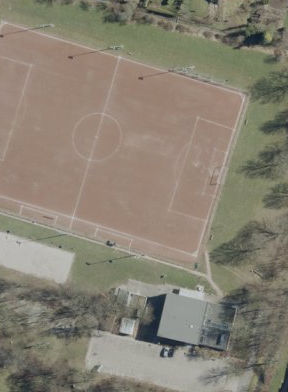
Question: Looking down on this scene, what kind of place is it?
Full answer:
The picture captures a sports ground.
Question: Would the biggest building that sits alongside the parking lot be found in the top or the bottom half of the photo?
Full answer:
The biggest building that sits alongside the parking lot sits in the bottom half of the picture.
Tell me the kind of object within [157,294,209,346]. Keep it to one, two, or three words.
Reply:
building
